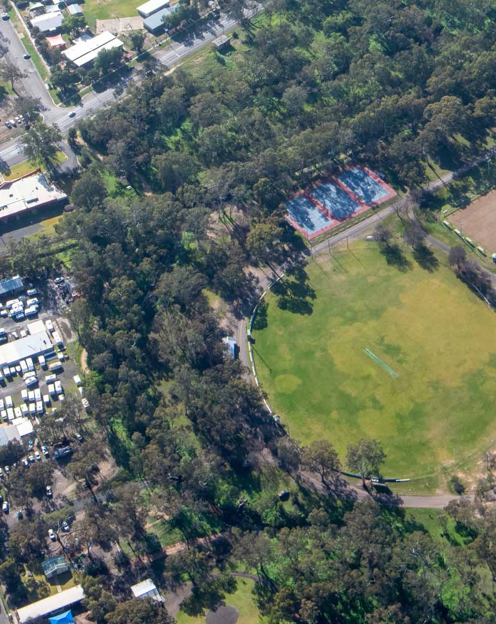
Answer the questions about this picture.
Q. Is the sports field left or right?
right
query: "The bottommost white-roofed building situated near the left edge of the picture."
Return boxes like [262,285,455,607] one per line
[17,586,86,624]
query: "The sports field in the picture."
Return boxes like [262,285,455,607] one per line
[250,242,496,479]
